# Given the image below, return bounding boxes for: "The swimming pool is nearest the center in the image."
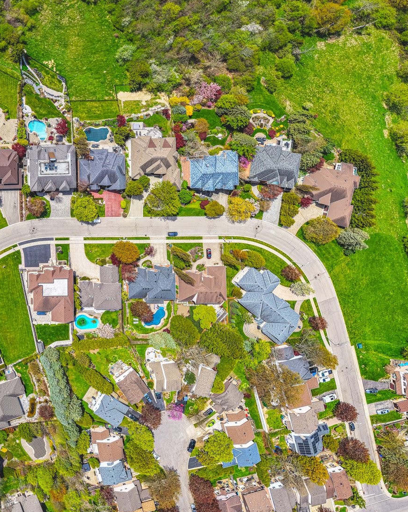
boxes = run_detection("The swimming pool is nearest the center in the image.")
[144,306,168,327]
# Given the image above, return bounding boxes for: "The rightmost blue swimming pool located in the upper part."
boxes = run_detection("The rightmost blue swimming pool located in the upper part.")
[83,127,111,144]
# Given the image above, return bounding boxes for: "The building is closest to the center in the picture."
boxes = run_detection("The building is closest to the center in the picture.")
[176,265,226,304]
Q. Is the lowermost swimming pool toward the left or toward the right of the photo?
left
